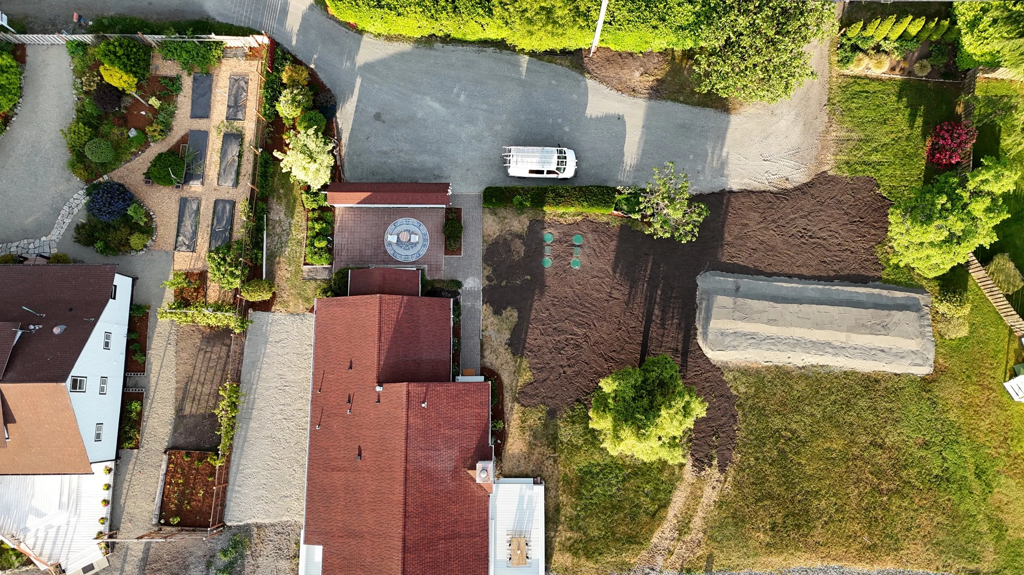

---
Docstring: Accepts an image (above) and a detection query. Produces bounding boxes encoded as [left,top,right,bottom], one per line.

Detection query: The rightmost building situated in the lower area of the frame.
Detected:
[302,269,496,575]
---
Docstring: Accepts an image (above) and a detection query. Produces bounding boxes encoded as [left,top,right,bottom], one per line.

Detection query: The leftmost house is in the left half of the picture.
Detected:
[0,263,133,476]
